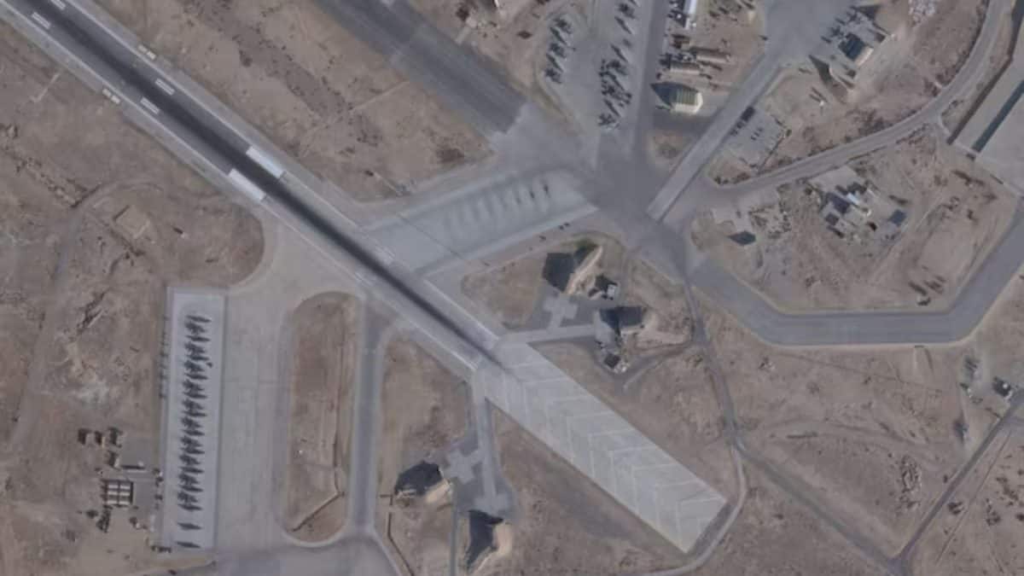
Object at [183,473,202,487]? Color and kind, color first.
gray airplane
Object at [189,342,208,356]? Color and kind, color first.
gray airplane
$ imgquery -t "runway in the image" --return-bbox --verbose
[1,0,733,560]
